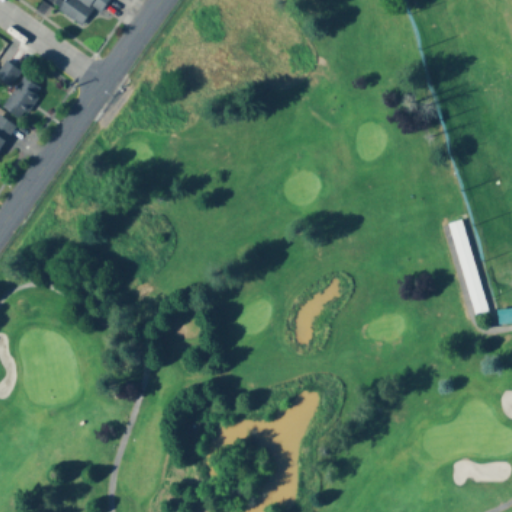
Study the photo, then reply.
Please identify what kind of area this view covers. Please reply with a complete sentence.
It's a golf course.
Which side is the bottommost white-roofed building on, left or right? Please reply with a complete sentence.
The bottommost white-roofed building sits on the right side.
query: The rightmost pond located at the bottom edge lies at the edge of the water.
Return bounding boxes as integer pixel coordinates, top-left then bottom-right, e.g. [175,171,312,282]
[220,390,320,512]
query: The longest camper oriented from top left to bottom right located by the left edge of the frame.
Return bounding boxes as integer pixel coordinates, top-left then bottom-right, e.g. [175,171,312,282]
[6,26,28,44]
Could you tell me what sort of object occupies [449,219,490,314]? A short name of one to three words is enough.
building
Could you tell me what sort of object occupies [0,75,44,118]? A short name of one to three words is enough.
house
